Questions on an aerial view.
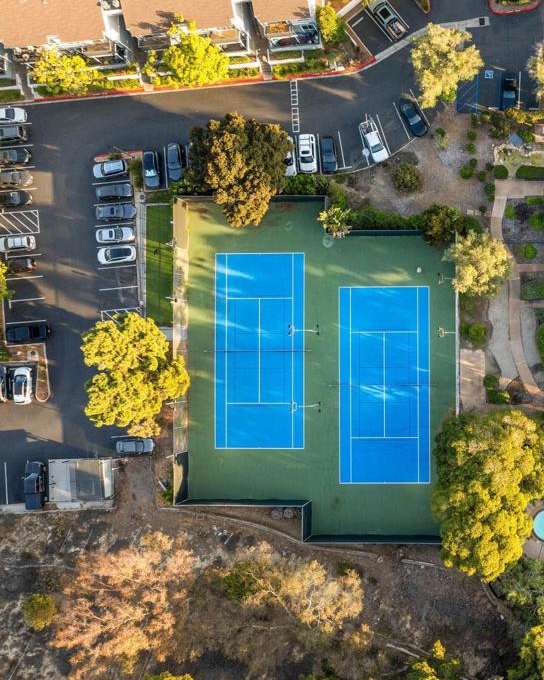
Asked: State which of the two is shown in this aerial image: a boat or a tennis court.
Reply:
tennis court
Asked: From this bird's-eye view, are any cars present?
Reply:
Yes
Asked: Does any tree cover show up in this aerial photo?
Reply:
Yes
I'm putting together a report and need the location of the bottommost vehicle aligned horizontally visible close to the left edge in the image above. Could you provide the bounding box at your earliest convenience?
[1,322,51,342]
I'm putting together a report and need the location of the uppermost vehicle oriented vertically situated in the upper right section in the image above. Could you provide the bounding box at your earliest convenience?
[499,71,518,112]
